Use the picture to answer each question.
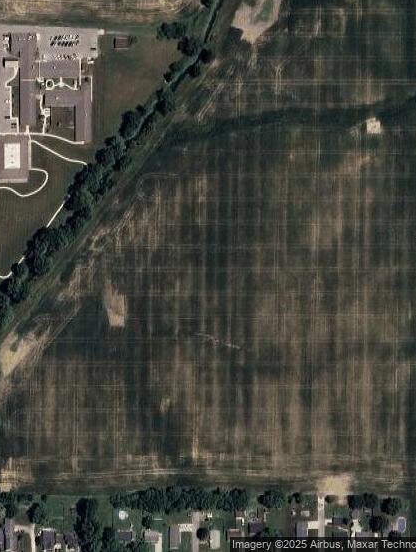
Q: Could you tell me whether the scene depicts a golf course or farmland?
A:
farmland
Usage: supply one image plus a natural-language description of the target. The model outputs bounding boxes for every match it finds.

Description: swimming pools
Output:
[117,510,127,520]
[395,516,406,532]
